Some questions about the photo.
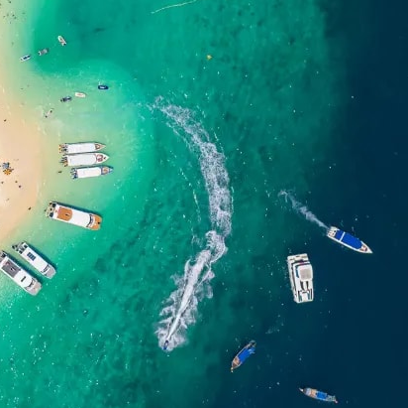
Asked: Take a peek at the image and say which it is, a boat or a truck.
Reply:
boat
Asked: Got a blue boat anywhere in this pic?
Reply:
Yes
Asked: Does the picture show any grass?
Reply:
No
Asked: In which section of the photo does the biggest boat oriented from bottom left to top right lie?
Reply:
bottom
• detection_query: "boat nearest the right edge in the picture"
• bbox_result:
[323,224,373,253]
